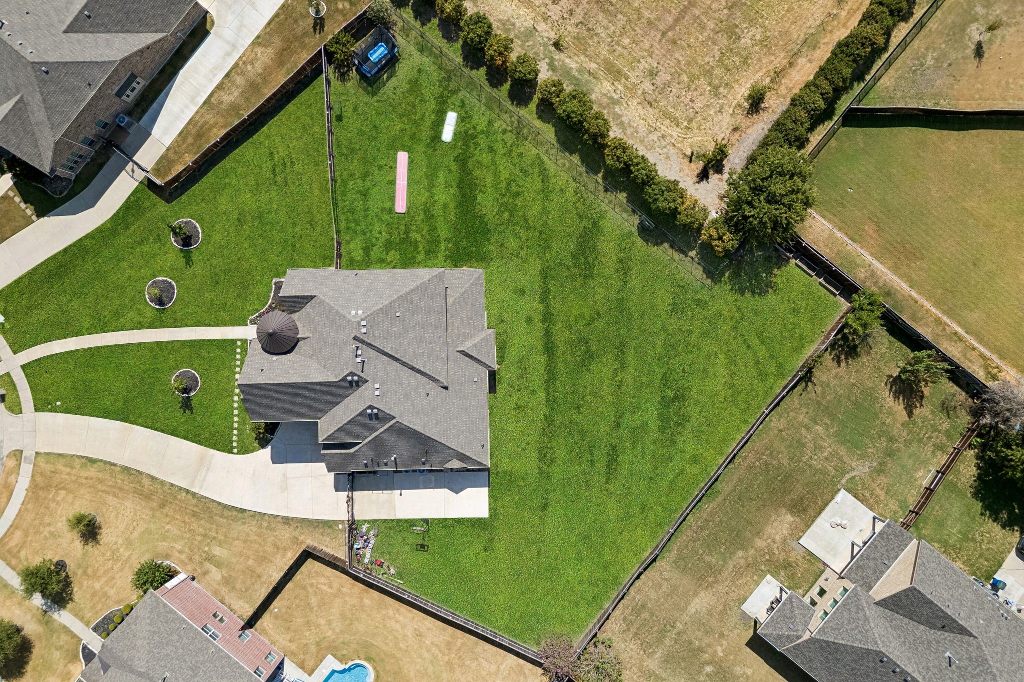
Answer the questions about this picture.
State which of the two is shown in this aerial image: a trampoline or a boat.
trampoline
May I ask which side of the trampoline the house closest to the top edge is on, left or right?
on its left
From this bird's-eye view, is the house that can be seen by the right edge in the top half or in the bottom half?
bottom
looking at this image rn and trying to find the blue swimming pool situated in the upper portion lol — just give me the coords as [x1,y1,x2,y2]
[363,40,387,64]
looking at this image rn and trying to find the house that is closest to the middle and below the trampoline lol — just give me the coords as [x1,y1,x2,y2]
[238,267,498,473]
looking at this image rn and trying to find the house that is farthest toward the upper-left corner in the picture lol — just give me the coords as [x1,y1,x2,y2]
[0,0,215,178]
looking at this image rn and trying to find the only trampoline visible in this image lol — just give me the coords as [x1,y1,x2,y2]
[349,22,399,79]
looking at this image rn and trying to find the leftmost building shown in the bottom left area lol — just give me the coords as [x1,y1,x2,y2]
[73,573,283,682]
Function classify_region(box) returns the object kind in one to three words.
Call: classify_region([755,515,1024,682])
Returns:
house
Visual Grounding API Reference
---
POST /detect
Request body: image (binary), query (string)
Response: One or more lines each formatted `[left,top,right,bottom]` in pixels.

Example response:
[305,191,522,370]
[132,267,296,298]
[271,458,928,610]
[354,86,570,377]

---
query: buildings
[755,515,1024,682]
[238,267,498,473]
[0,0,215,178]
[73,573,283,682]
